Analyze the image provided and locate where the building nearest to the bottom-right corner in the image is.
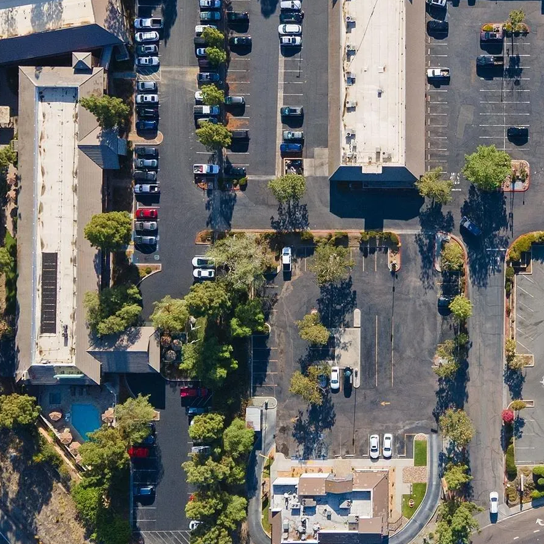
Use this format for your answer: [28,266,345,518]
[271,468,389,544]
